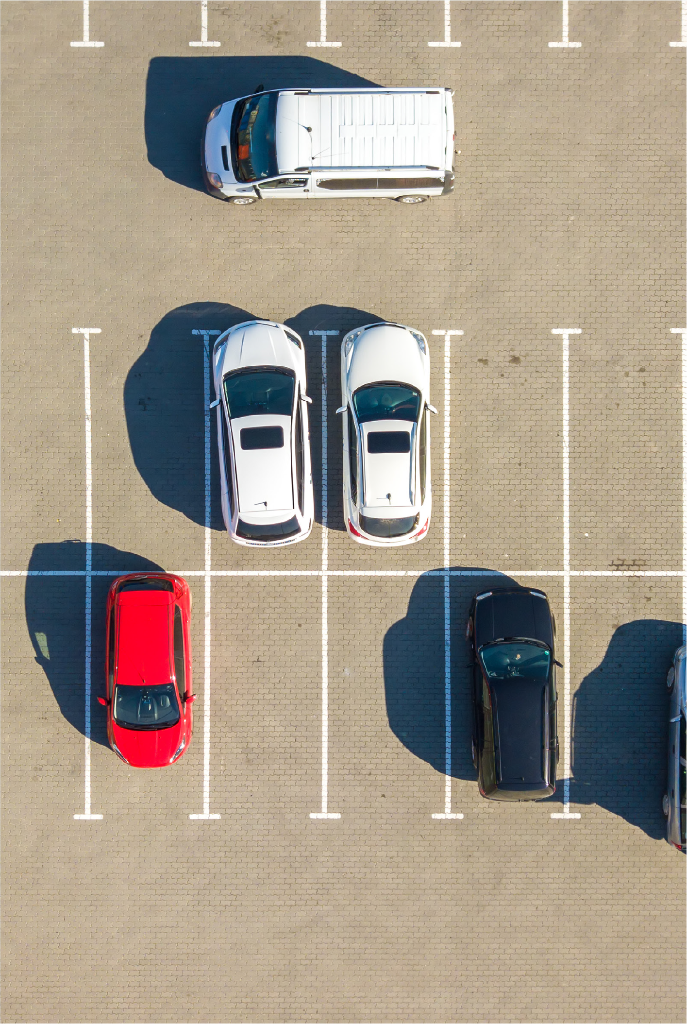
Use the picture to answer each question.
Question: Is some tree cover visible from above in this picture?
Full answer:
No, there is no tree cover in the image.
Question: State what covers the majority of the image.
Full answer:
Most of the picture is covered by paved ground.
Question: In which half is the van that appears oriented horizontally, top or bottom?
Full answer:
You can find the van that appears oriented horizontally in the top half.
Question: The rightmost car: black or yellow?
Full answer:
From above, the rightmost car appears black.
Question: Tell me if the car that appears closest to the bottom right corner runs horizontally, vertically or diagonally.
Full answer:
What the image shows is the car that appears closest to the bottom right corner lying vertically.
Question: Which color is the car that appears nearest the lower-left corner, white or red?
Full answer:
From above, the car that appears nearest the lower-left corner appears red.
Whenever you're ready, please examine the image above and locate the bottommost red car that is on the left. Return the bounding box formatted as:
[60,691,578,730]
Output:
[96,572,197,768]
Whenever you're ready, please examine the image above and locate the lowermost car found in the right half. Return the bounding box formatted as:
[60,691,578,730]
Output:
[465,586,567,802]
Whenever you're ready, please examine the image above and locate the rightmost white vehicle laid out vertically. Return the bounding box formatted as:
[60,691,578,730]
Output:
[336,322,438,547]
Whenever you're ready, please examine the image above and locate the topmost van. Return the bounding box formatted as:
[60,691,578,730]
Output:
[201,84,459,206]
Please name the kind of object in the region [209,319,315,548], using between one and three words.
car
